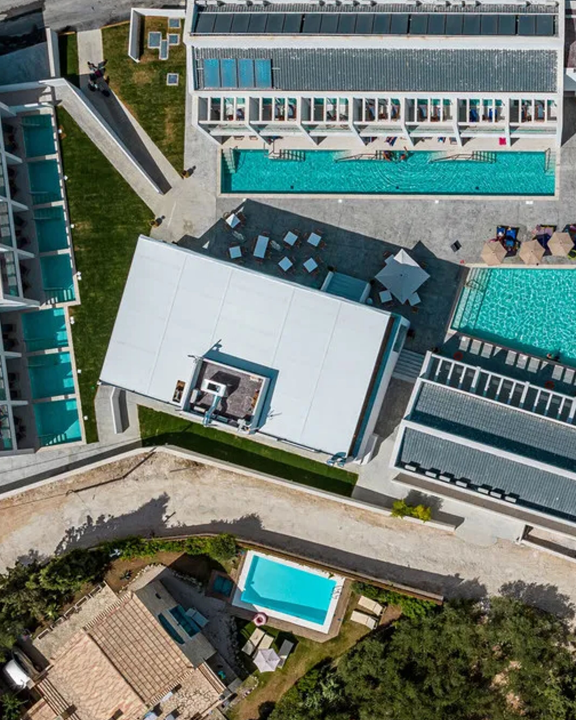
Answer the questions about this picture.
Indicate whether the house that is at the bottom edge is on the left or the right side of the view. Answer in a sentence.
The house that is at the bottom edge appears in the left half of the scene.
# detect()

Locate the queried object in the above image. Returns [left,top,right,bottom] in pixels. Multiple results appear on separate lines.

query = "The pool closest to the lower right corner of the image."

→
[229,543,350,638]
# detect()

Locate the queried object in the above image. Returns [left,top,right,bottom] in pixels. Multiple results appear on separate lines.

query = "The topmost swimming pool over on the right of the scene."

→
[217,144,560,200]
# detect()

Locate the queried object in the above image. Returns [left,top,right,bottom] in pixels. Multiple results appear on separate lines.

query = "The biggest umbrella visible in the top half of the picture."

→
[375,248,432,306]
